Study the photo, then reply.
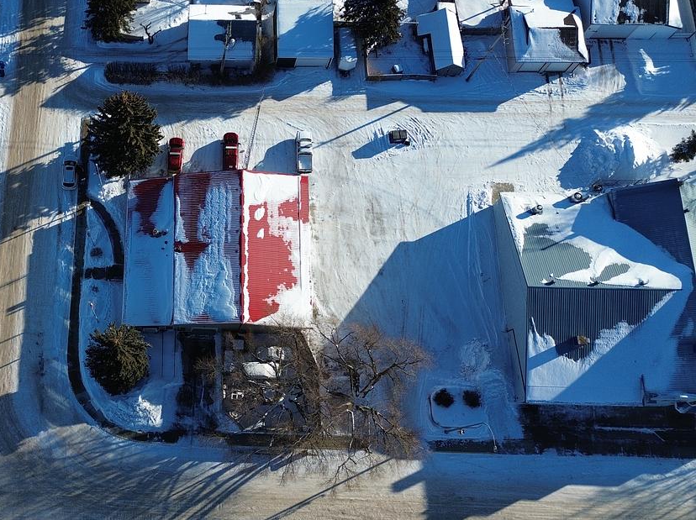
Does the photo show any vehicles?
Yes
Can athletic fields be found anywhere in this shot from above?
No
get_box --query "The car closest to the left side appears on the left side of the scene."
[61,158,80,193]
